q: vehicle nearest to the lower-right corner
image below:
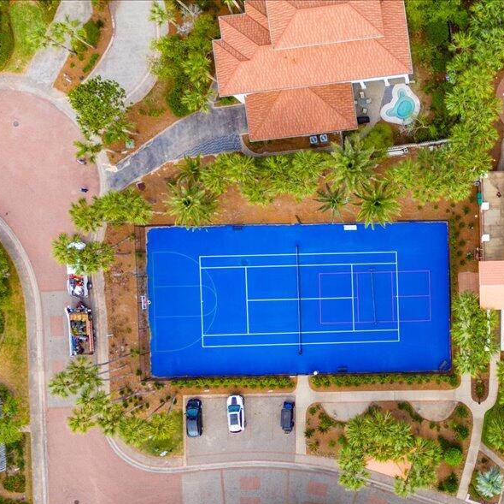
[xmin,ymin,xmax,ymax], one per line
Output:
[276,401,295,437]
